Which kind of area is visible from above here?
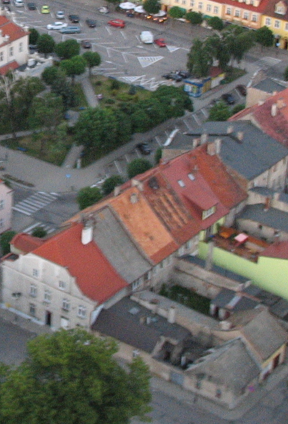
residential area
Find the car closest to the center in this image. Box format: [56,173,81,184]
[134,142,154,156]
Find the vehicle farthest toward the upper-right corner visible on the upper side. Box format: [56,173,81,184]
[231,81,248,96]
